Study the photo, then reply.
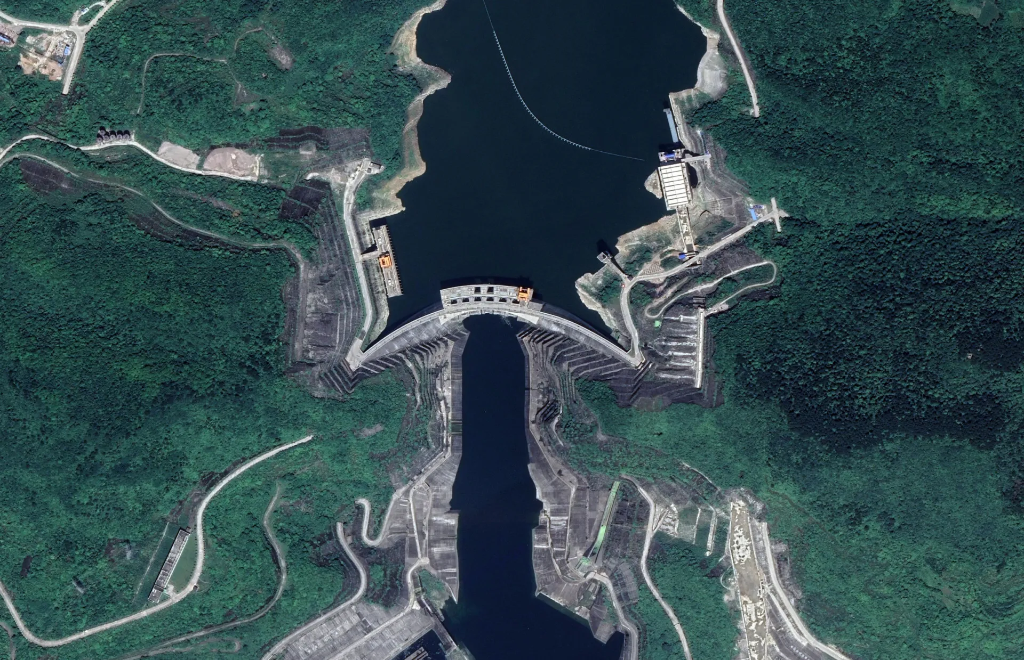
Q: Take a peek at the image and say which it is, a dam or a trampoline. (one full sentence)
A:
The one in the frame is a dam.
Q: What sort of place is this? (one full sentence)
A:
The area seen from above is a port.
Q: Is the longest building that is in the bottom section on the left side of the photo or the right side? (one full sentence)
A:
You can find the longest building that is in the bottom section on the left side of the picture.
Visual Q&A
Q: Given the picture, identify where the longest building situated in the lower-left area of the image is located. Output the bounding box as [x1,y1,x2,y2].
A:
[148,527,191,603]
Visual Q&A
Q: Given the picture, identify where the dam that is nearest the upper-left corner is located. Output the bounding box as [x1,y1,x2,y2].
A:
[357,284,638,368]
